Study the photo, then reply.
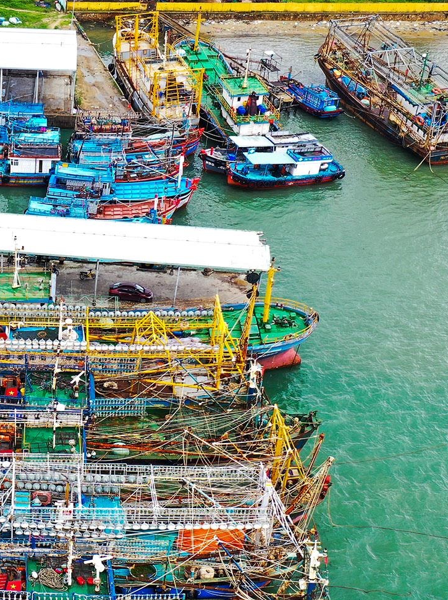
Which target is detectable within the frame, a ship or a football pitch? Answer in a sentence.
I can see a ship in this picture.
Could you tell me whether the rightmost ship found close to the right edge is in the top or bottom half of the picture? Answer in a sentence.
The top half of the photo is where the rightmost ship found close to the right edge is.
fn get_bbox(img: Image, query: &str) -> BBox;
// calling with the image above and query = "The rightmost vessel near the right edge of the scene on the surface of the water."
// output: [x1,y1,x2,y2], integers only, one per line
[306,26,448,170]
